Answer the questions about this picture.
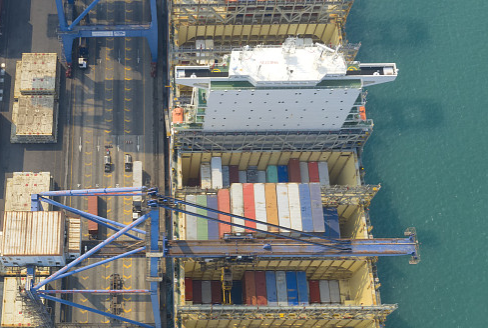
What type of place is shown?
port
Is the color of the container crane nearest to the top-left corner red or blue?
blue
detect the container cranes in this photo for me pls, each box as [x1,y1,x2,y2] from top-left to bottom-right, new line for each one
[53,0,157,77]
[0,173,433,328]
